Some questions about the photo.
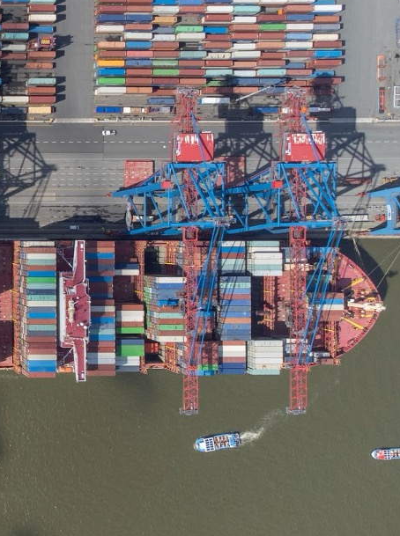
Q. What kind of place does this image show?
port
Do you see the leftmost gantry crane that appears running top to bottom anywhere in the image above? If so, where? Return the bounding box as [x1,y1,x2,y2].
[108,84,235,413]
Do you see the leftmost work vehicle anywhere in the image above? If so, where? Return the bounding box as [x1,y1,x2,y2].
[26,35,54,53]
